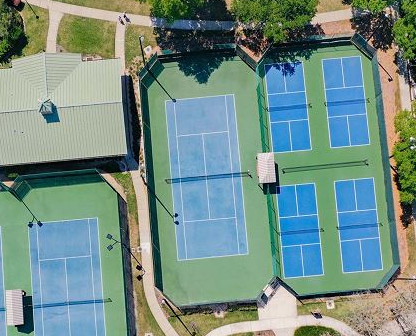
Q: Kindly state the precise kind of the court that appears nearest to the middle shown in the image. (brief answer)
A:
tennis court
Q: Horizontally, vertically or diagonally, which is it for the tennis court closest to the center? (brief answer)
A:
vertically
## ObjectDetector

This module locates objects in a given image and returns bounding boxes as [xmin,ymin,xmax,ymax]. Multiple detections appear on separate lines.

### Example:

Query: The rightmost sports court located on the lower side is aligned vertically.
[334,177,383,274]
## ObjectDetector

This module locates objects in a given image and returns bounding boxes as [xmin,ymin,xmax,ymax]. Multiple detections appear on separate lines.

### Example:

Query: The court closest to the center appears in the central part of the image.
[166,94,248,261]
